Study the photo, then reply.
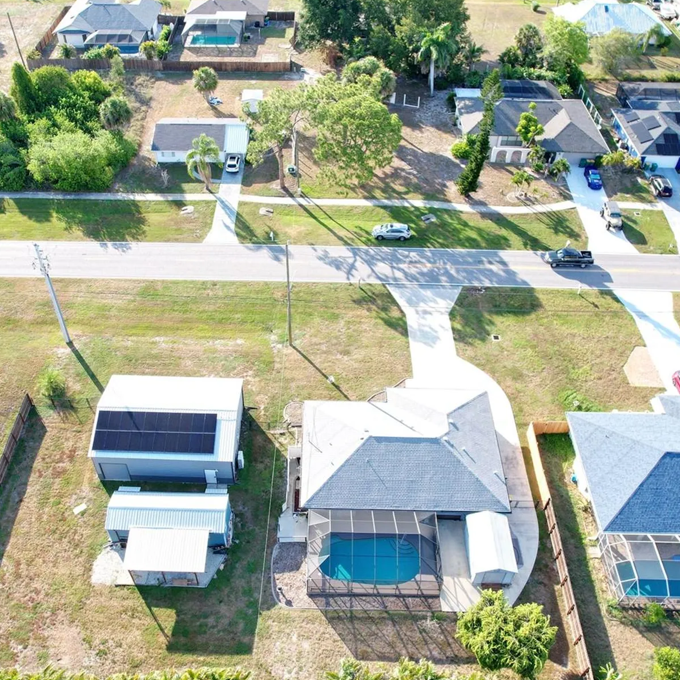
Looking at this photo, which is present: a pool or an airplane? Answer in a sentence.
Looking from above, you can make out a pool.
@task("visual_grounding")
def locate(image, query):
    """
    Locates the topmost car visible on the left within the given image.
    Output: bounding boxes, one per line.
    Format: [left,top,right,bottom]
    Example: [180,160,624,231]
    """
[224,154,241,177]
